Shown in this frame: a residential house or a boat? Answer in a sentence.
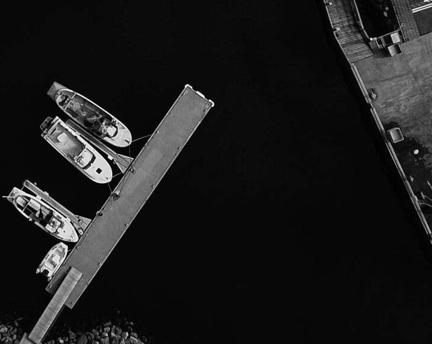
This aerial view contains a boat.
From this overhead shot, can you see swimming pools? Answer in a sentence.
No, no swimming pool is visible in the scene.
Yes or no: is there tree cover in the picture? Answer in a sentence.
No, no tree cover is visible.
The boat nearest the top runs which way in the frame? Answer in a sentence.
The boat nearest the top has been laid out on a diagonal relative to the frame.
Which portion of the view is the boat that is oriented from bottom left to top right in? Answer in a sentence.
The boat that is oriented from bottom left to top right is located in the bottom left region of the scene.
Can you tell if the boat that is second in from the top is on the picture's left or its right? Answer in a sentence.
You can find the boat that is second in from the top on the left side of the picture.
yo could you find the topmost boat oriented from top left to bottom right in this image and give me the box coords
[47,82,132,148]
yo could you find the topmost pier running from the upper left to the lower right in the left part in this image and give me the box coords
[66,119,134,174]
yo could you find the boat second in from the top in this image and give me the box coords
[40,117,113,184]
